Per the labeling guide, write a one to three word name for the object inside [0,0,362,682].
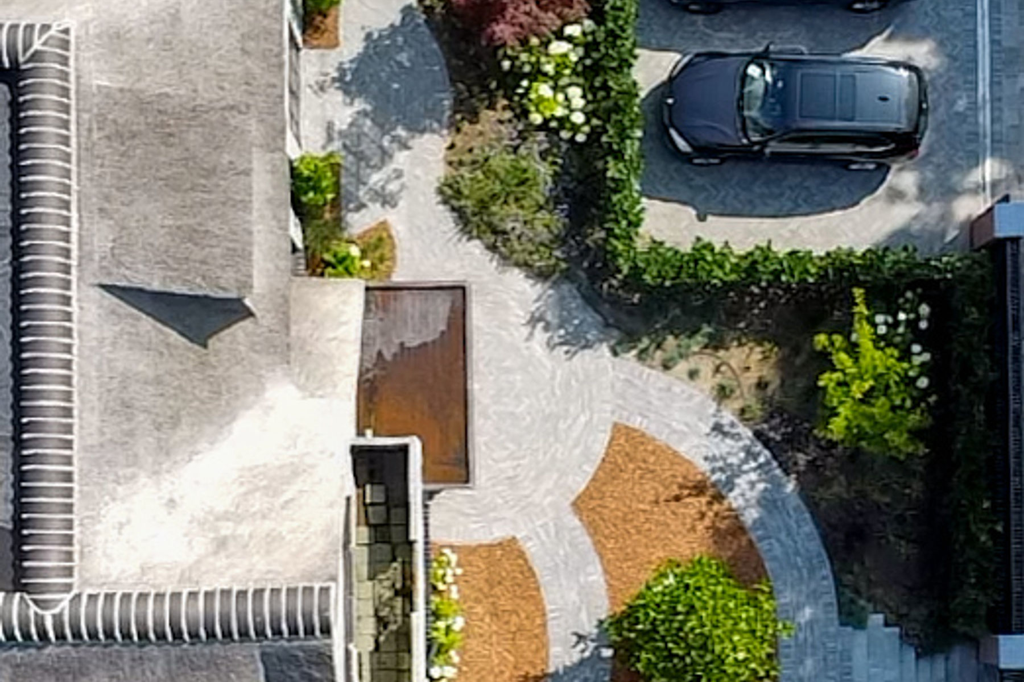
house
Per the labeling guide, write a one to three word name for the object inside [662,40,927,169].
car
